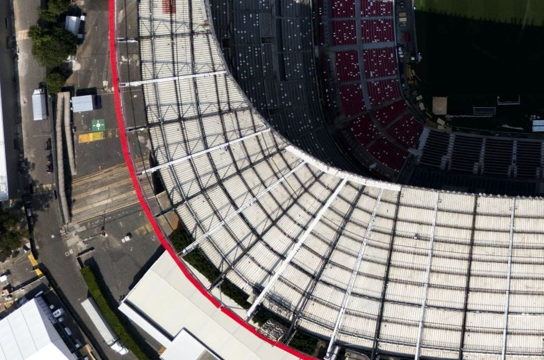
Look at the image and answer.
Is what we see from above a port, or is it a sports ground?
sports ground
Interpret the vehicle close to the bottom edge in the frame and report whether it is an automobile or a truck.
truck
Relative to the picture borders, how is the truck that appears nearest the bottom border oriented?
at an angle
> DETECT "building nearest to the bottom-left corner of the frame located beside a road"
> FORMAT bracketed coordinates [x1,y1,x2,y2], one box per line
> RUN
[0,285,94,360]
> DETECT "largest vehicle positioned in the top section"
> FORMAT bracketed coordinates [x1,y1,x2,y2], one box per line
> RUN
[29,89,45,121]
